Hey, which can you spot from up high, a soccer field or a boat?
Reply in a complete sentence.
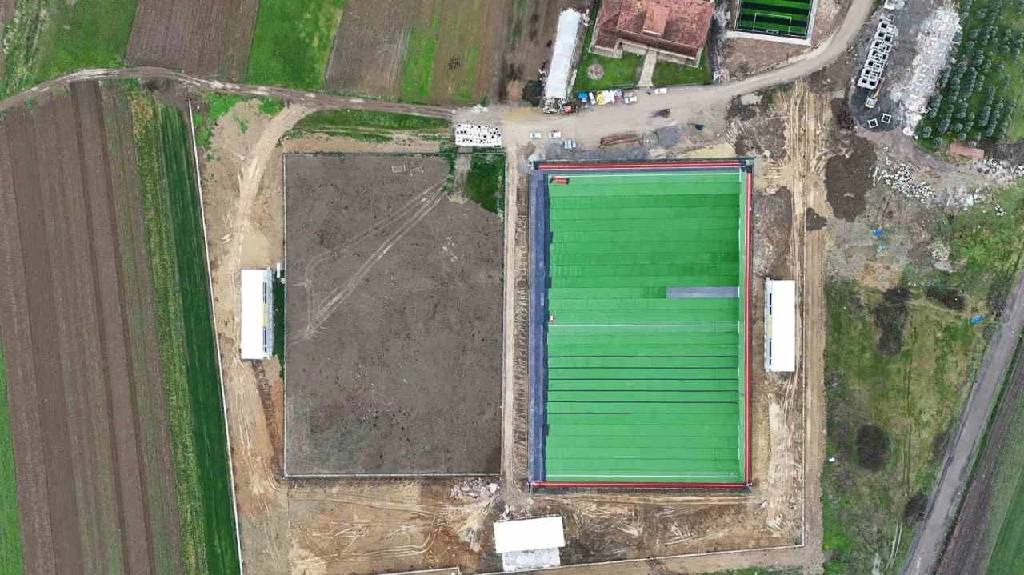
It is a soccer field that can be seen here.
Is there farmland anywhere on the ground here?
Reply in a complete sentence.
Yes, the picture does contain farmland.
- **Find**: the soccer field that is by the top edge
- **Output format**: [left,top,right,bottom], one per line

[723,0,820,47]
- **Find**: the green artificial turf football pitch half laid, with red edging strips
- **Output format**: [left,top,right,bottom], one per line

[530,161,752,488]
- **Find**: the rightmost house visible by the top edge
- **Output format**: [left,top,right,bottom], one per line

[592,0,716,68]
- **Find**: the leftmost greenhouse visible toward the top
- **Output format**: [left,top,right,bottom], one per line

[547,7,583,100]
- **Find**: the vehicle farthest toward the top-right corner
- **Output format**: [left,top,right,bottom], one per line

[865,82,884,109]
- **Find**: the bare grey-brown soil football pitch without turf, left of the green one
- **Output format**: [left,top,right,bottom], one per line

[284,152,504,478]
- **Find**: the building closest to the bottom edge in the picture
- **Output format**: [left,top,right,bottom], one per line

[493,511,565,567]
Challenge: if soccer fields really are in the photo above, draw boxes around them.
[723,0,820,47]
[284,152,504,478]
[530,161,752,488]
